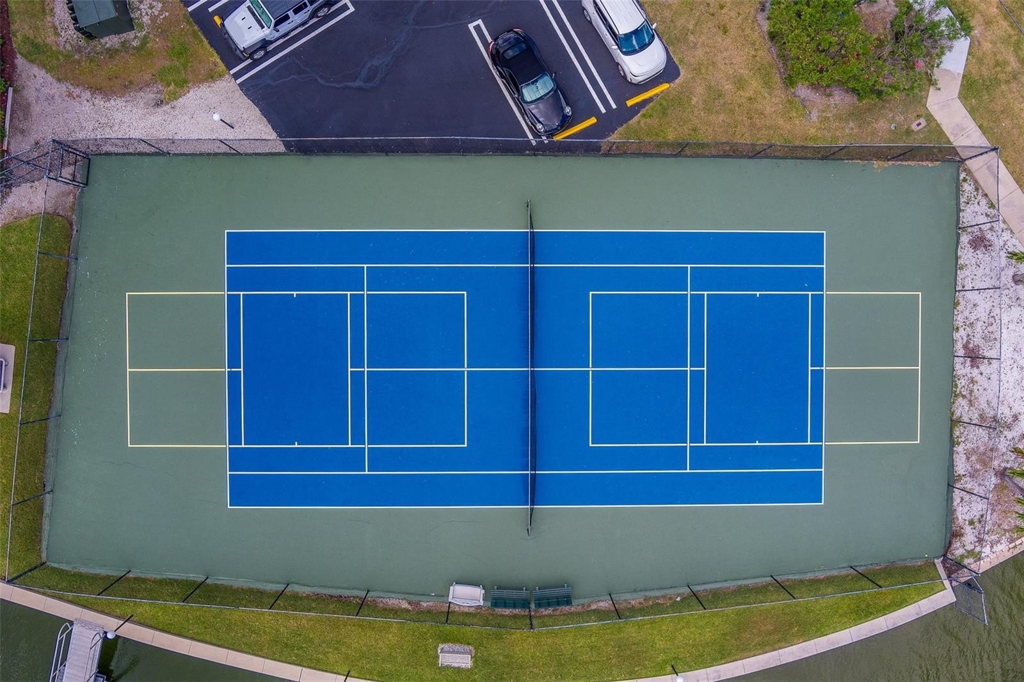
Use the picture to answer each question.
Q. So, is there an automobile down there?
Yes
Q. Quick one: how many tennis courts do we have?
1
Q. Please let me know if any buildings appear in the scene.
No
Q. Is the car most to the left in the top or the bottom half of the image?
top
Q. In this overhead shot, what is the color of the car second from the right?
black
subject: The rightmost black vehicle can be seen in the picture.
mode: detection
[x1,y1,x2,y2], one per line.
[487,24,572,139]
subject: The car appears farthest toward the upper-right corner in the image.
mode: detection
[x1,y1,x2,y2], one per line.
[581,0,668,86]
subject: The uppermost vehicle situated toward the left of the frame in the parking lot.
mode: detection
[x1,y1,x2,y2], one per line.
[218,0,336,64]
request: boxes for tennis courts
[42,151,963,610]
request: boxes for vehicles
[581,0,668,86]
[487,24,572,139]
[218,0,336,64]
